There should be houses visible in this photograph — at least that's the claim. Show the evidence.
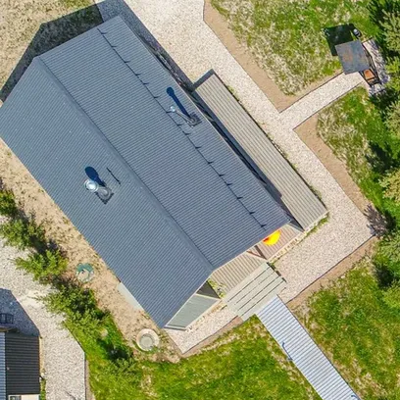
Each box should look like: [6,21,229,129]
[0,17,330,328]
[0,328,40,400]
